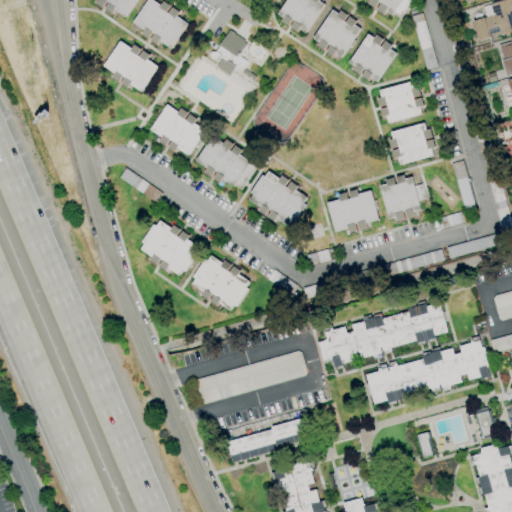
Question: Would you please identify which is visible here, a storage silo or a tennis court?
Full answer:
Of the two, only a tennis court appears.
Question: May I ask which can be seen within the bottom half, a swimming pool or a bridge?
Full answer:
Visible within the bottom half is a swimming pool.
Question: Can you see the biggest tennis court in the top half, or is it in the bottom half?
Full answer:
The biggest tennis court is in the top half of the image.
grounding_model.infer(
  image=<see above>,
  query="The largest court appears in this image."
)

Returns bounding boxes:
[252,64,326,142]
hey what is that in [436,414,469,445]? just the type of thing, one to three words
swimming pool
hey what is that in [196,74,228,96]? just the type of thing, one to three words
swimming pool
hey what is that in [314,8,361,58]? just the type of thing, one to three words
building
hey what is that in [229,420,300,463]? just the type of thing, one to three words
building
